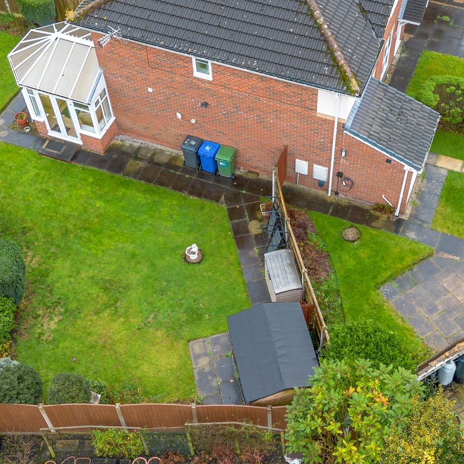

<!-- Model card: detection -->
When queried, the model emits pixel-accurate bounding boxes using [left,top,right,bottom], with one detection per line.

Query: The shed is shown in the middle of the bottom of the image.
[227,302,319,406]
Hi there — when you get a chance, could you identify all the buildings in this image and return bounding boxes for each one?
[66,0,446,218]
[227,302,319,406]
